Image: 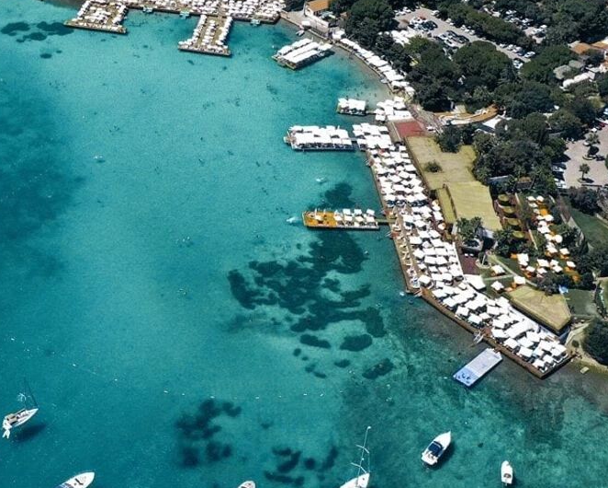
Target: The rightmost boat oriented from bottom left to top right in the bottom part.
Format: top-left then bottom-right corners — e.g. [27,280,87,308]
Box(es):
[418,429,452,470]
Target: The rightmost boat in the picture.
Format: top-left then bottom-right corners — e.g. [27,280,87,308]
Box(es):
[500,460,514,487]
